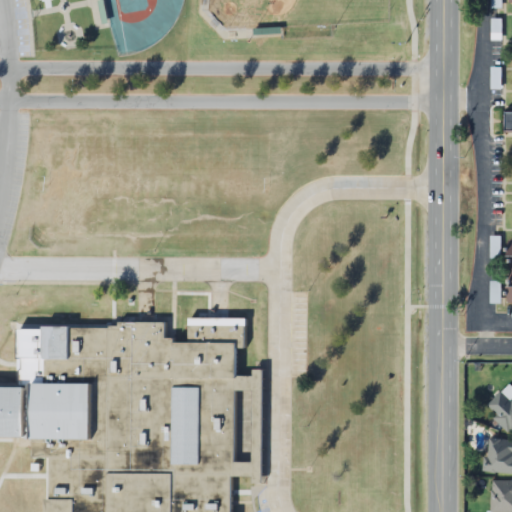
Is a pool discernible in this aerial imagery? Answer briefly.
Yes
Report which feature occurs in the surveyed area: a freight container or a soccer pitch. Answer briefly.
soccer pitch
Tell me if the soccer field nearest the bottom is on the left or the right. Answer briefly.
left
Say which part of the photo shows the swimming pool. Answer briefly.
bottom right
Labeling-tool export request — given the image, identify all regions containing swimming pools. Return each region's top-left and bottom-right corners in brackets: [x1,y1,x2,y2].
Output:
[468,420,495,454]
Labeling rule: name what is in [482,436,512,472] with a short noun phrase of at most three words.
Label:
house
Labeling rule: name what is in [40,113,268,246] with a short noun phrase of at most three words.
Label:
soccer field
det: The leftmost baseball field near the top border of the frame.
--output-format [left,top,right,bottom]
[106,0,185,52]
